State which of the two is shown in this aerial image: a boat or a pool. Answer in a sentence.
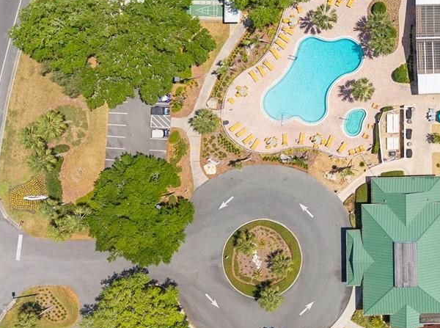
The one in the frame is a pool.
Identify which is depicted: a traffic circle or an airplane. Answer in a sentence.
It is a traffic circle that can be seen here.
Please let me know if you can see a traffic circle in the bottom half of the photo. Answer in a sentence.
Yes, a traffic circle shows up in the bottom half of the photo.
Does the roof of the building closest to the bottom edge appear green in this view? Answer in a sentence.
Yes, the roof of the building closest to the bottom edge is green.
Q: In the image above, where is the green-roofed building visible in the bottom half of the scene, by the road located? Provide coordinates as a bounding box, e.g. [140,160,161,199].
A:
[347,175,440,328]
